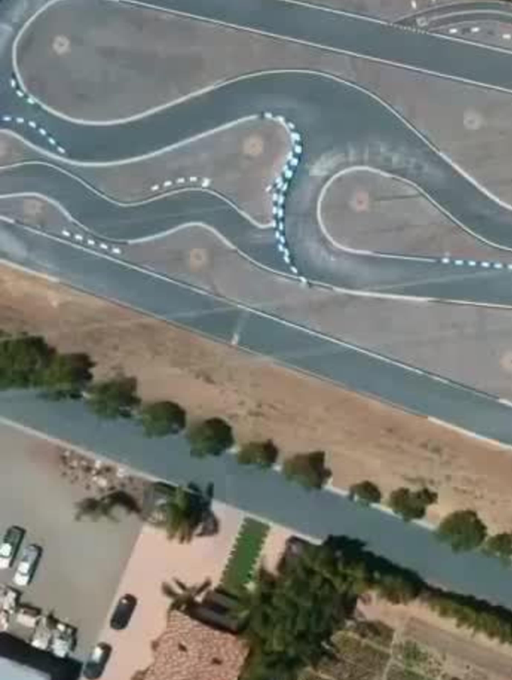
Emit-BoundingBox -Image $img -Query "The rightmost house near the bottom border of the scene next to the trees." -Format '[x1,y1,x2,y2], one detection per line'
[144,609,251,680]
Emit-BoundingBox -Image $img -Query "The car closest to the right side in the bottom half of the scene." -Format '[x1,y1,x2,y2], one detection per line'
[111,593,136,630]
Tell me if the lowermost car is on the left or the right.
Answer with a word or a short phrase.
left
